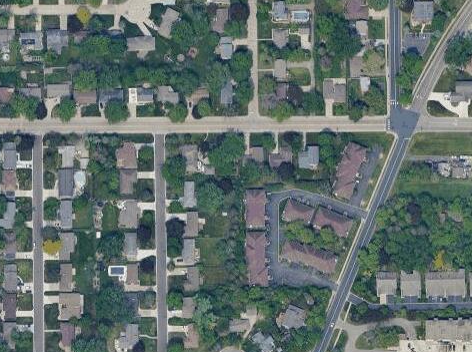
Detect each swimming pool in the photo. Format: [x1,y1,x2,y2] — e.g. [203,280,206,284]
[74,172,85,183]
[108,266,127,276]
[291,11,310,22]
